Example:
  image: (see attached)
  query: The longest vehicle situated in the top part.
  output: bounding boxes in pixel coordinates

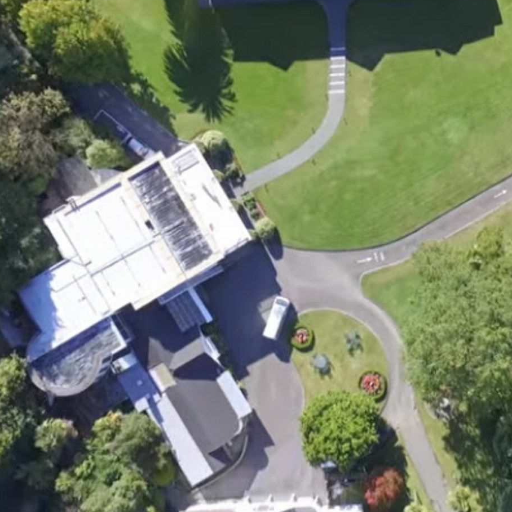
[127,134,154,157]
